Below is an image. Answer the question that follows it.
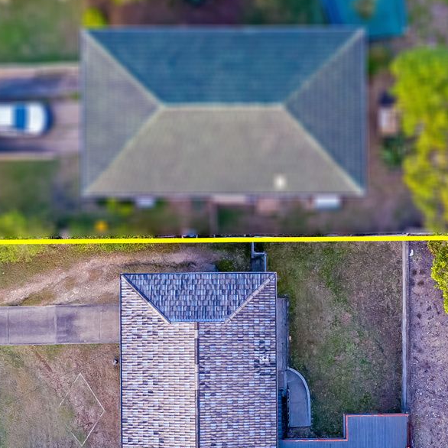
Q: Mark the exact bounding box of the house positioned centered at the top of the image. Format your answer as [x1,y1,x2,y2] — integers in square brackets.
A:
[80,25,368,198]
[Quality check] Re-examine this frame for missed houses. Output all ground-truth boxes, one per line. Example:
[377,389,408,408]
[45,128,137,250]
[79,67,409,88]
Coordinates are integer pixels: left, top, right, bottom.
[80,25,368,198]
[119,271,278,448]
